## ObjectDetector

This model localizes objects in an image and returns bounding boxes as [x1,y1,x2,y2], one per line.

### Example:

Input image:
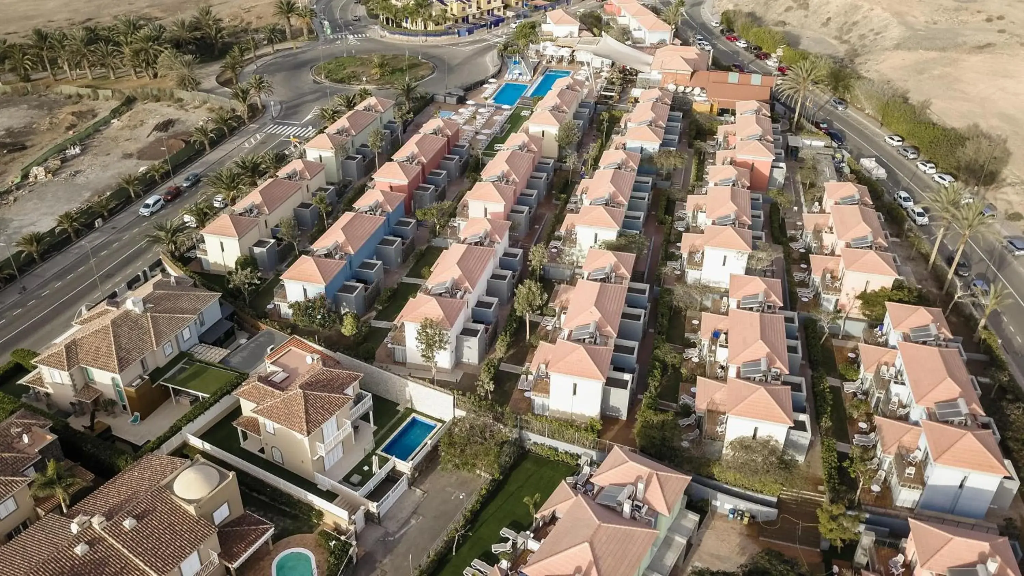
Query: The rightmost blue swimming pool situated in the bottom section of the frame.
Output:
[377,416,443,463]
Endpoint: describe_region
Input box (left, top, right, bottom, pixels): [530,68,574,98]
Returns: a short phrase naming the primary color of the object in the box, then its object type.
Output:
blue swimming pool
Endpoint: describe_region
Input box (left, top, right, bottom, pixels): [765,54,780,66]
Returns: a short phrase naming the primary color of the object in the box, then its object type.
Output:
white vehicle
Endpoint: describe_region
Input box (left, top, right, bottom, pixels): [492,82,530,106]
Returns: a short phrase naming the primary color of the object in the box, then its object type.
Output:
blue swimming pool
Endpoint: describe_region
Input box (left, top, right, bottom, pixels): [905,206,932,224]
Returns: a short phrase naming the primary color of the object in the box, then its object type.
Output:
white car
